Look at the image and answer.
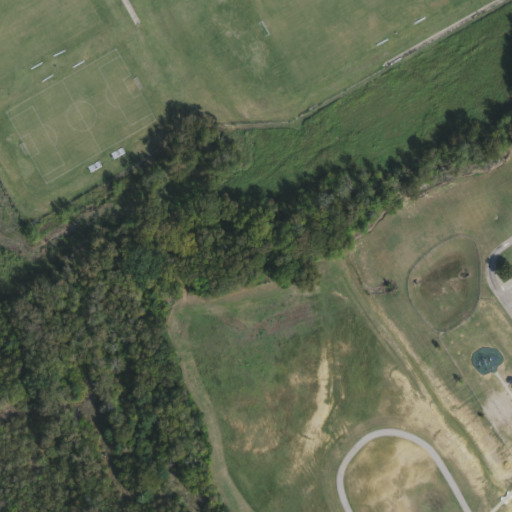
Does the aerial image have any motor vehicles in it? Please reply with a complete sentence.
No, I can't see a single motor vehicle in this photo.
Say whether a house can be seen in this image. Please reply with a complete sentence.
No, there's no house here.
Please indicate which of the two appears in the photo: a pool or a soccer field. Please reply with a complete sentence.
Of the two, only a soccer field appears.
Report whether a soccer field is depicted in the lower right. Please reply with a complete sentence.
No, no soccer field appears in the lower right.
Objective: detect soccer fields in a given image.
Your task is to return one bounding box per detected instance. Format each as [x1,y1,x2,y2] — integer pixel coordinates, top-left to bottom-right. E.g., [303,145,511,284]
[5,47,158,185]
